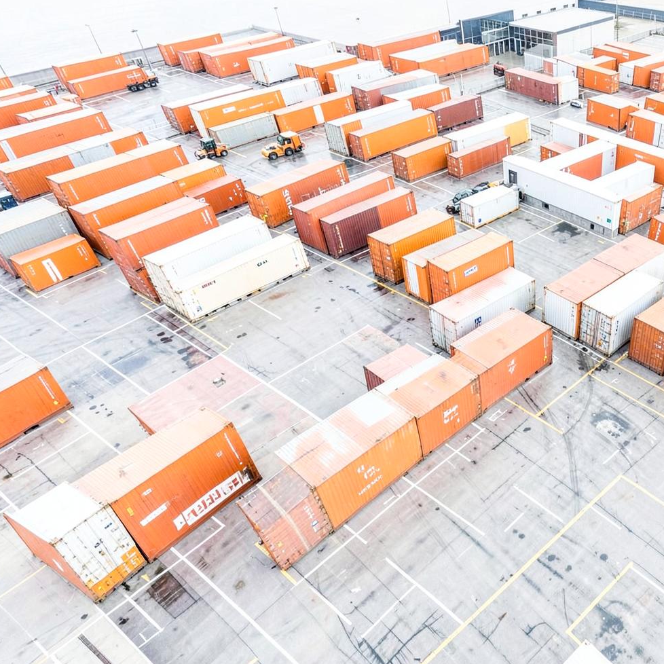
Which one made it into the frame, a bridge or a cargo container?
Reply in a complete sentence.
It is a cargo container that can be seen here.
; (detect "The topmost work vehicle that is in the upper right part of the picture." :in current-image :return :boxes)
[492,62,508,74]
